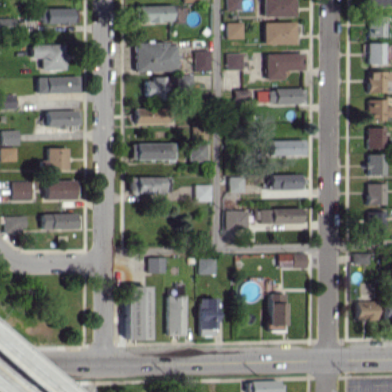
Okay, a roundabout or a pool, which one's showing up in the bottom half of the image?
pool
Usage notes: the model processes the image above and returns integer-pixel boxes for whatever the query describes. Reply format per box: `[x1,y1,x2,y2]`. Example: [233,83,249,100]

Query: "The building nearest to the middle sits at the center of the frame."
[195,184,212,204]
